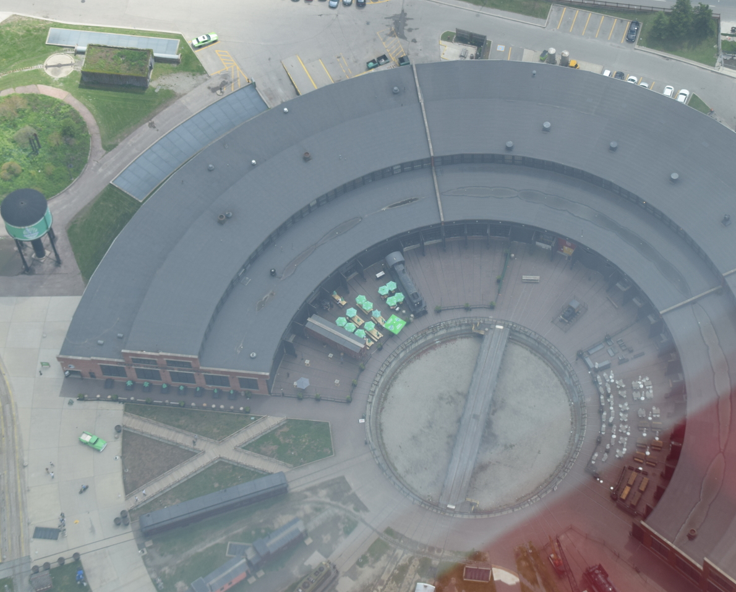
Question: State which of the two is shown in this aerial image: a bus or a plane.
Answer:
bus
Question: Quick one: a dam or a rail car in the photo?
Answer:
rail car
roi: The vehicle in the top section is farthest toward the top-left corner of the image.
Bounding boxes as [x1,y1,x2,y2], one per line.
[191,33,217,48]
